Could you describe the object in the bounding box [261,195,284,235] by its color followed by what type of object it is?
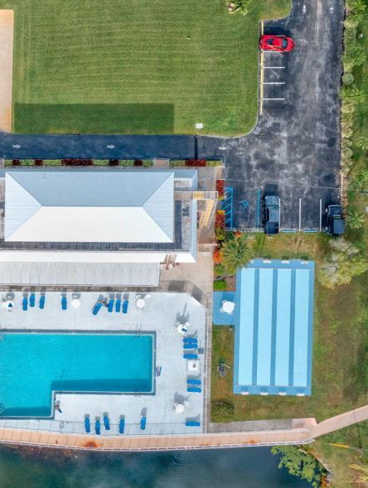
blue truck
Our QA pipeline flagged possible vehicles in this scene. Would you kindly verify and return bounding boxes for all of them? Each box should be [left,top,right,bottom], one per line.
[261,195,284,235]
[322,203,345,236]
[259,33,295,51]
